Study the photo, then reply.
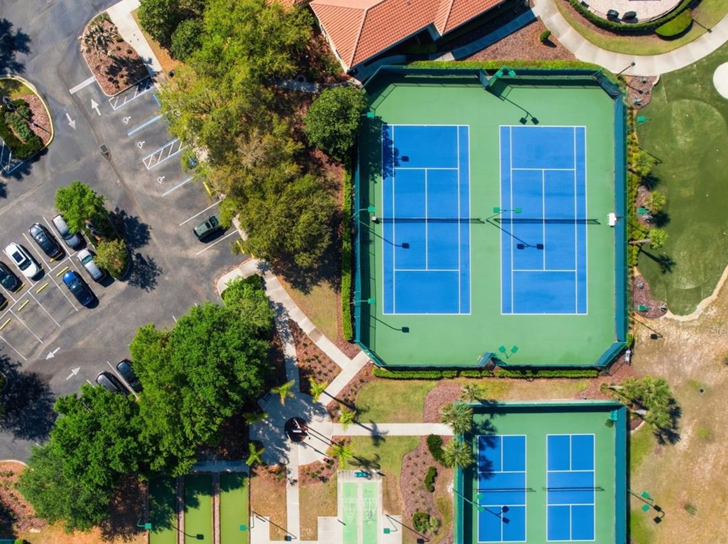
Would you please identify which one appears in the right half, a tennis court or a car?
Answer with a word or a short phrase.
tennis court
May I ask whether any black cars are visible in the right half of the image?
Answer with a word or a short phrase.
No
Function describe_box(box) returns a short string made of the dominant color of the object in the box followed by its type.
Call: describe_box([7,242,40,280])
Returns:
white car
